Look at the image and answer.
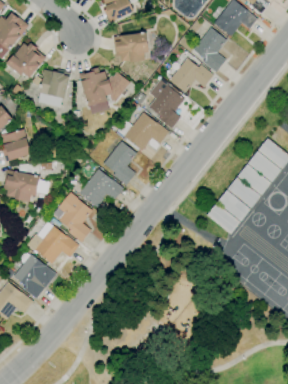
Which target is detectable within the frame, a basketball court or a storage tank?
basketball court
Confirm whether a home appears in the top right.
Yes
